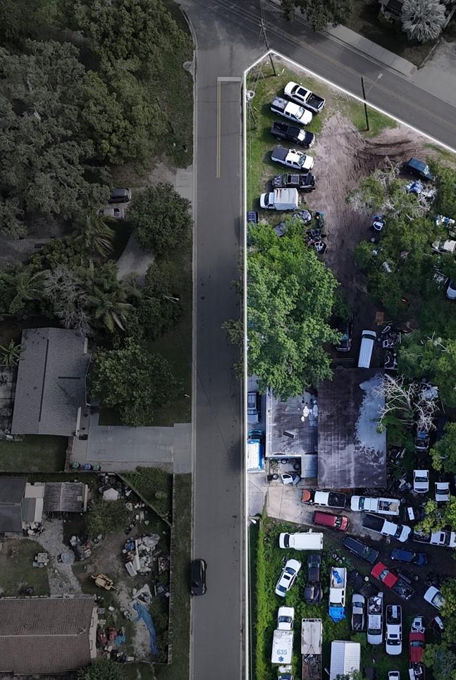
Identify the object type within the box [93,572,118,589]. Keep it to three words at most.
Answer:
work vehicle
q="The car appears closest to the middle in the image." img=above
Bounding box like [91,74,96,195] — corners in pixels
[245,392,262,425]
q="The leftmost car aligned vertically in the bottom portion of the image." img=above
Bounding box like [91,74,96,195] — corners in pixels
[189,558,207,596]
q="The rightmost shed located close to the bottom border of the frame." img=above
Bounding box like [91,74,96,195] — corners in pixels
[330,636,360,680]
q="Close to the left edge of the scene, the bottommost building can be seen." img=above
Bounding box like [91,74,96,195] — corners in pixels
[0,595,100,677]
